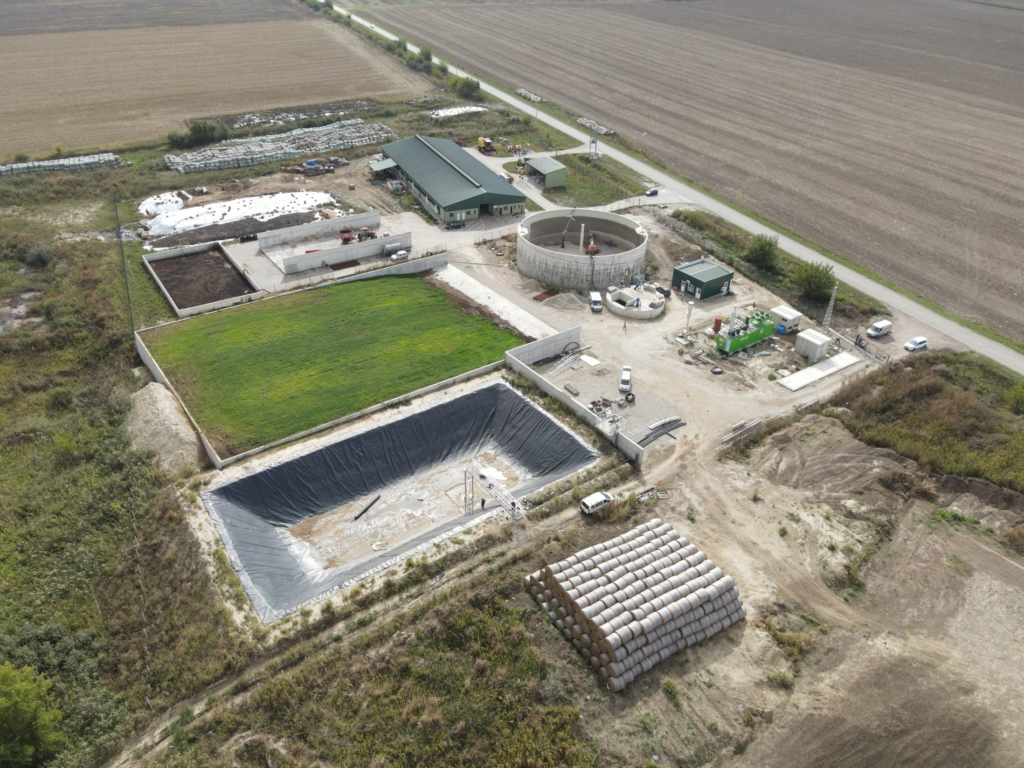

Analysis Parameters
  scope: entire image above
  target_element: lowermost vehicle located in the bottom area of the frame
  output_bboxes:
[579,485,620,515]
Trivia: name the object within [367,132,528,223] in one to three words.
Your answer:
barn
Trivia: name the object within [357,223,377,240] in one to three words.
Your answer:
work vehicle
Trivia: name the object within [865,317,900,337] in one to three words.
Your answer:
vehicle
